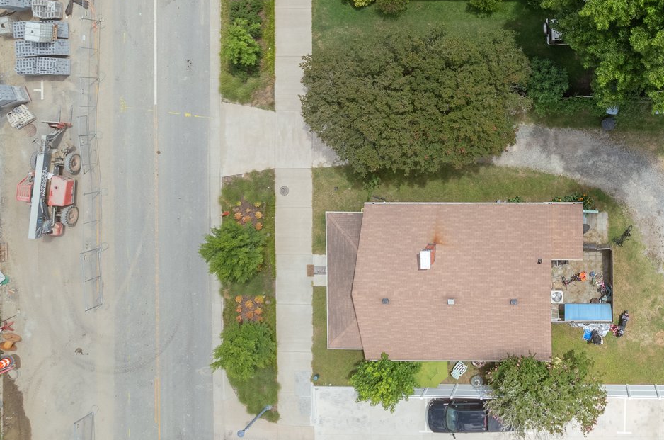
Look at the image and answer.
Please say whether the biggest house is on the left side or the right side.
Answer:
right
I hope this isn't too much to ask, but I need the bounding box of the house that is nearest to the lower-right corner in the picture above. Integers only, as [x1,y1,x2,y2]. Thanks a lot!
[326,201,583,362]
